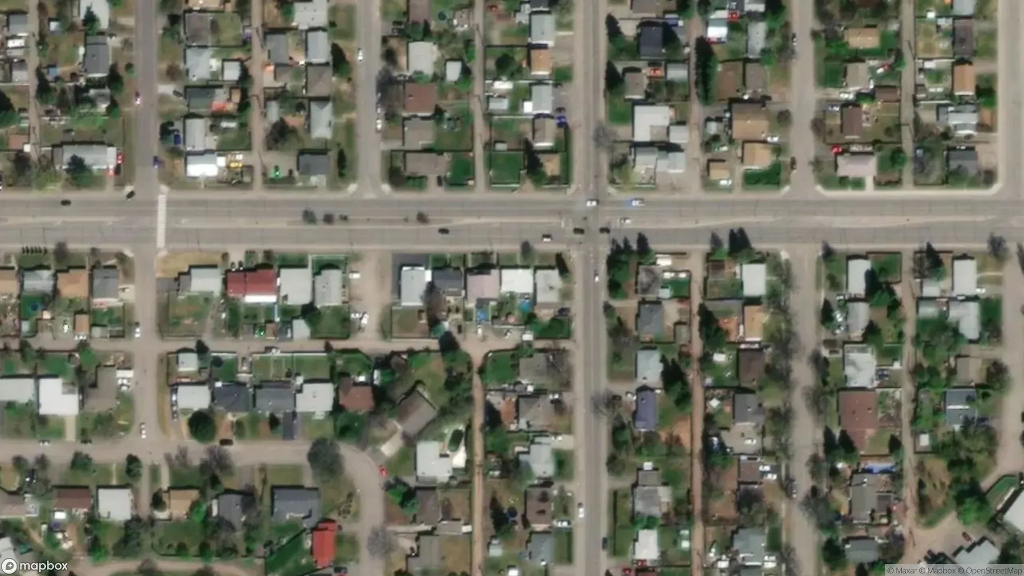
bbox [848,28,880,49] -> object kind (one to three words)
house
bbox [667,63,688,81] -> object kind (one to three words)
building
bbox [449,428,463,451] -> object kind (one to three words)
swimming pool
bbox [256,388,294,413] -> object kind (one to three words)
house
